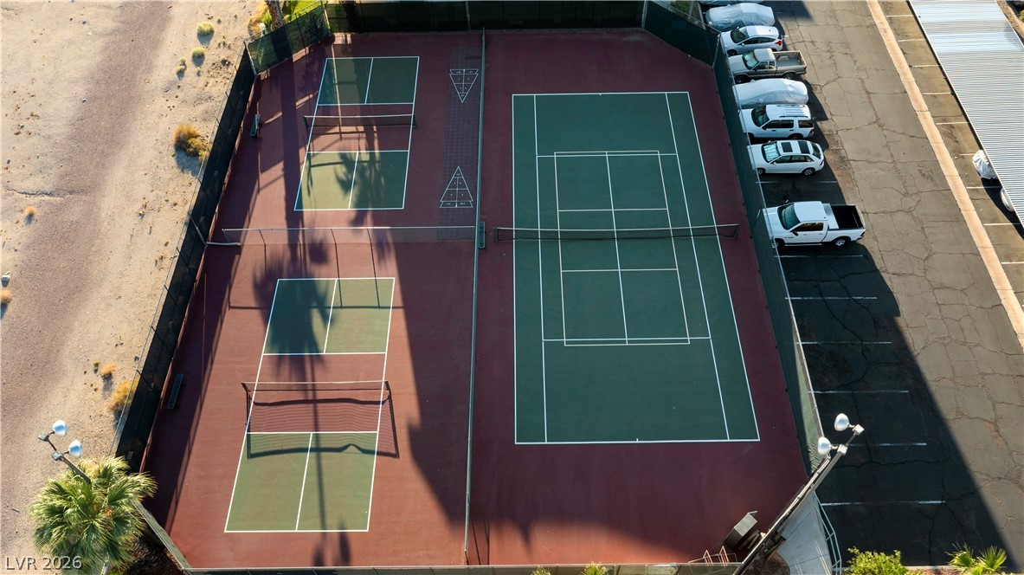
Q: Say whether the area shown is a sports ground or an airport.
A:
sports ground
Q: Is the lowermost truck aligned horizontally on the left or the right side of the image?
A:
right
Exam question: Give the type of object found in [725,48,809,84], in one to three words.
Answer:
truck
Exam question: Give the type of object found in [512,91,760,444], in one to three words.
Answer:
tennis court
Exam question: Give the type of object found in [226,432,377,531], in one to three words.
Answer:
sports court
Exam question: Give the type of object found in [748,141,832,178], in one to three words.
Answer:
car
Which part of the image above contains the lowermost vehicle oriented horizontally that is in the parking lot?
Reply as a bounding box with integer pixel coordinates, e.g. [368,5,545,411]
[762,201,865,246]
